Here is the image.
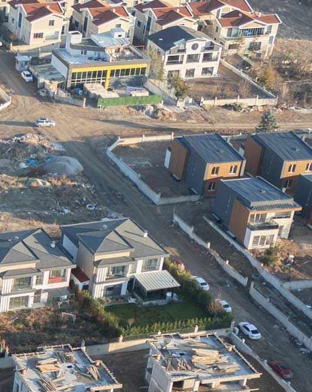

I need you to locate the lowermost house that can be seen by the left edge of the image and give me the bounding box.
[0,227,79,312]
